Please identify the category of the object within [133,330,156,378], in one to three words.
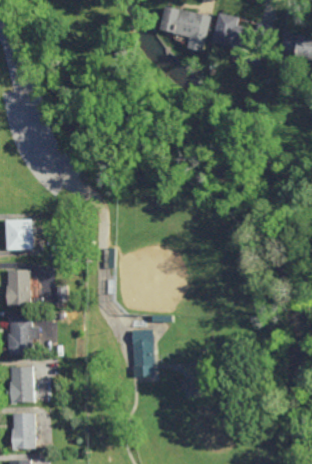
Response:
building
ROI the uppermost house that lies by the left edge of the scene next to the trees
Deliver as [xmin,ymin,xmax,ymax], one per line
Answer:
[6,218,34,254]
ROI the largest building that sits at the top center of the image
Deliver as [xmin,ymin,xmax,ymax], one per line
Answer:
[162,8,212,38]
